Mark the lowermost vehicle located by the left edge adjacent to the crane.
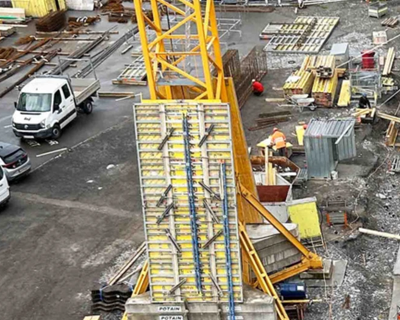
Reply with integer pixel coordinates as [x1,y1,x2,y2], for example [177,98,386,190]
[17,67,103,133]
